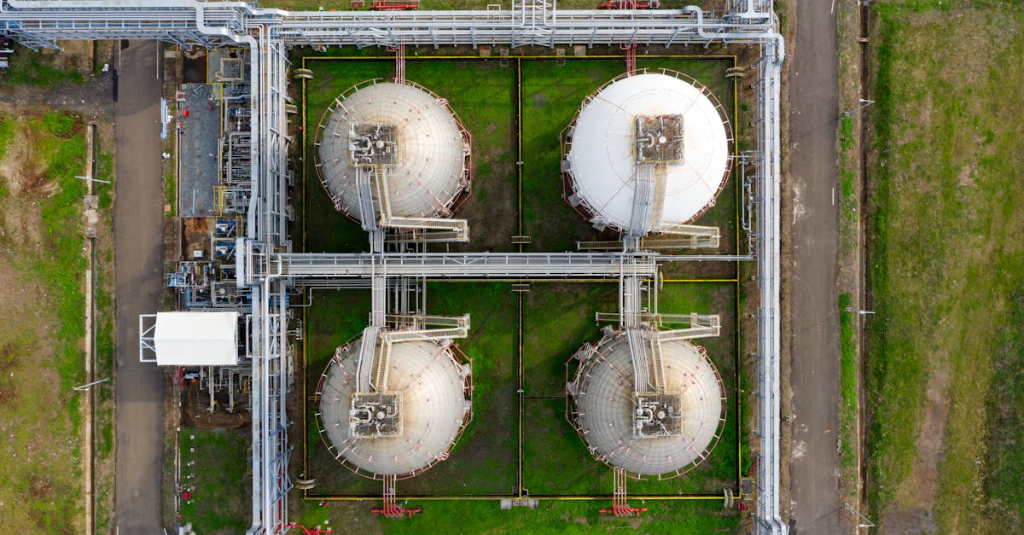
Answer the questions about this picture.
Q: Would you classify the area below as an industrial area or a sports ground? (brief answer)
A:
industrial area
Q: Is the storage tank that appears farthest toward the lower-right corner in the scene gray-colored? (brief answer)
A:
Yes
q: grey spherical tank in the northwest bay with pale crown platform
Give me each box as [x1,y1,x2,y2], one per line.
[315,77,480,253]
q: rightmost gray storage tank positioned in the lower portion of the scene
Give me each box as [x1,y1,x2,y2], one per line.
[559,279,726,480]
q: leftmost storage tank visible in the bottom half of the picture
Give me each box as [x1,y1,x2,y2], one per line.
[316,279,481,481]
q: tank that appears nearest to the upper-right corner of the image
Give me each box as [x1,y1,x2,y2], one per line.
[554,69,732,253]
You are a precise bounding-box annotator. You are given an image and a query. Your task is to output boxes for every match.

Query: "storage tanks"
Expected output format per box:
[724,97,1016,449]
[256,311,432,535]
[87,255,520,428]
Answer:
[315,77,480,253]
[559,279,726,480]
[554,69,732,253]
[316,279,481,481]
